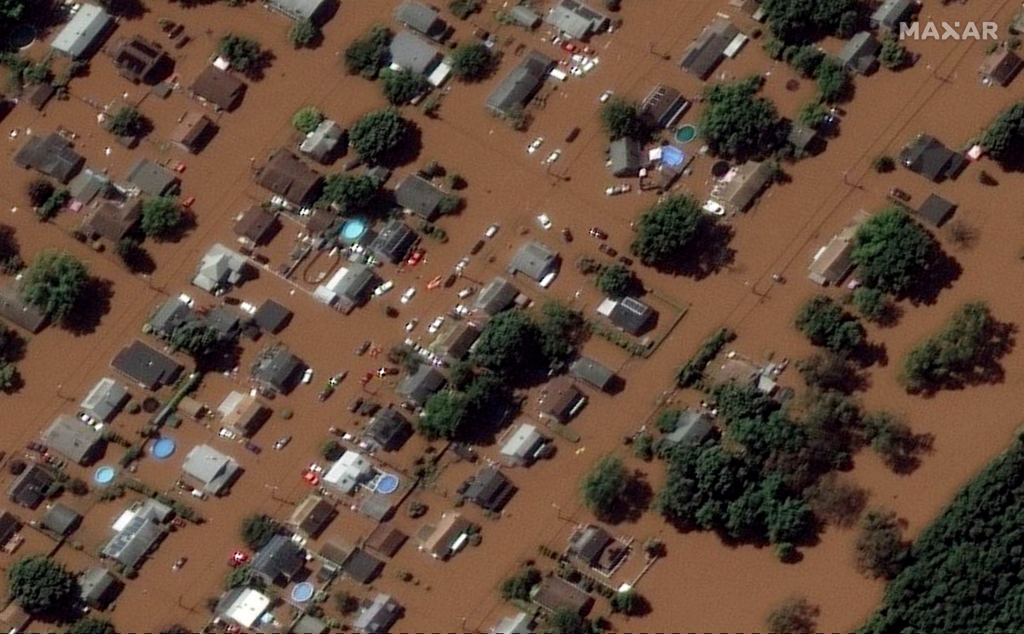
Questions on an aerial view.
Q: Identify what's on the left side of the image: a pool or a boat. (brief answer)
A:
pool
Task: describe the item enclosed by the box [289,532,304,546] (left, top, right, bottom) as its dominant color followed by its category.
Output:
white car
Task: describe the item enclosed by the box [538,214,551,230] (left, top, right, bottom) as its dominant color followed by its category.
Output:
white vehicle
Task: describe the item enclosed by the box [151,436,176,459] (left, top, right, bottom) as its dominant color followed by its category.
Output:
blue swimming pool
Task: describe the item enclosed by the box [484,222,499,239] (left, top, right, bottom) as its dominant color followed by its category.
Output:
white vehicle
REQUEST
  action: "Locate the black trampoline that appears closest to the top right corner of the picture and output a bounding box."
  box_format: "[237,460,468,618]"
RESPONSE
[712,161,730,177]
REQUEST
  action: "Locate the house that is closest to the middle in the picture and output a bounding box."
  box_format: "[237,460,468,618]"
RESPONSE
[475,278,516,314]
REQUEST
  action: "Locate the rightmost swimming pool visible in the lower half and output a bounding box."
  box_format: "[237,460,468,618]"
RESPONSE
[378,474,398,495]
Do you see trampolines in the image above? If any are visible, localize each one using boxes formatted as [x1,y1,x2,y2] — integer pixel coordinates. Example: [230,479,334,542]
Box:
[786,78,800,90]
[712,161,730,177]
[142,397,158,411]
